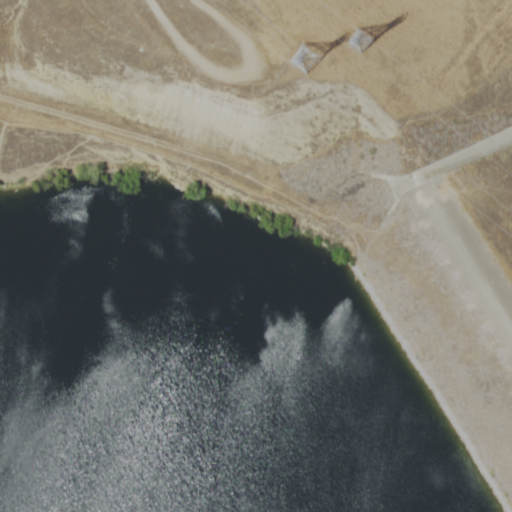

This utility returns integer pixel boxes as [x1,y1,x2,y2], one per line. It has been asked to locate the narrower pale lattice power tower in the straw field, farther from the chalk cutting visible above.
[347,28,374,54]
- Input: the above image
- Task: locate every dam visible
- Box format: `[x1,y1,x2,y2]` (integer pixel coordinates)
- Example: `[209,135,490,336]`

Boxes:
[350,160,512,512]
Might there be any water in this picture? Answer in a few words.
Yes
